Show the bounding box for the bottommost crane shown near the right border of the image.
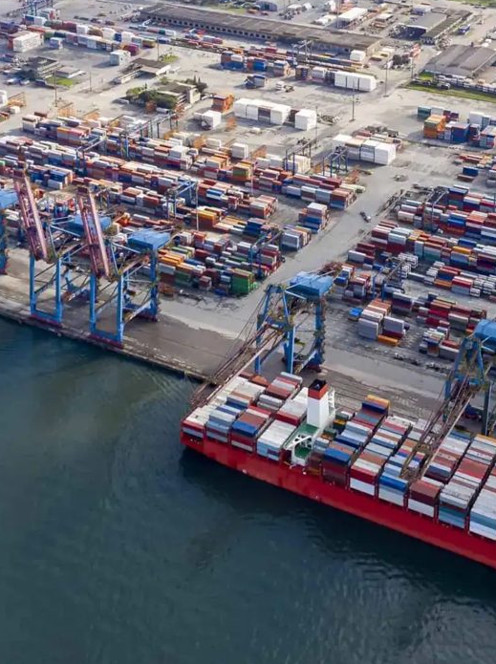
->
[387,315,496,484]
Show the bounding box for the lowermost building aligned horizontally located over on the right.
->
[423,47,496,84]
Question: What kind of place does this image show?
port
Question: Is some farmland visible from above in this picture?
No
